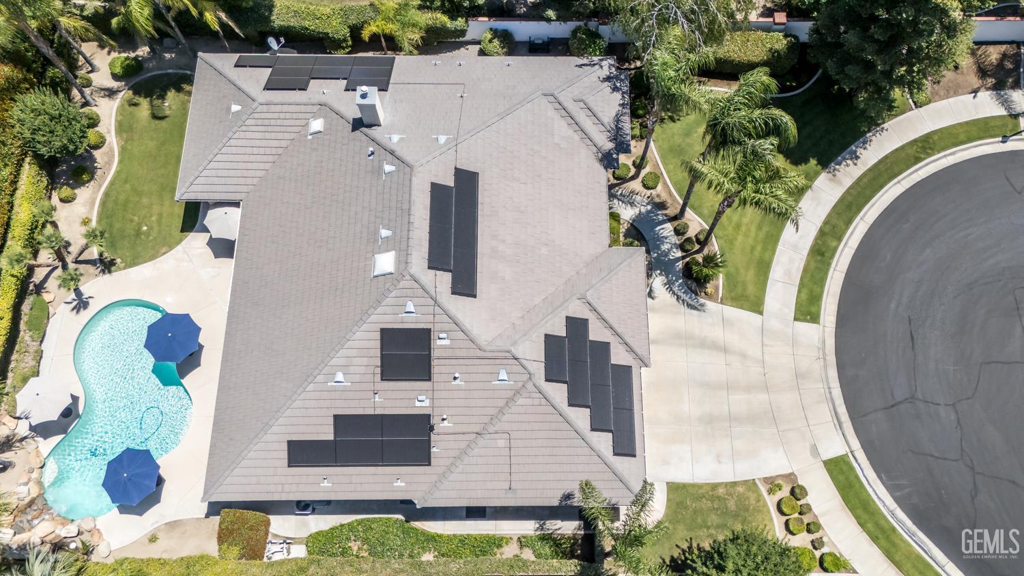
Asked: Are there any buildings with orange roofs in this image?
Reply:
No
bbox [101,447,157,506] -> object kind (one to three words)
umbrella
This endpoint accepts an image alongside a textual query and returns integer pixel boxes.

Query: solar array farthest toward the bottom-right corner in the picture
[544,316,636,457]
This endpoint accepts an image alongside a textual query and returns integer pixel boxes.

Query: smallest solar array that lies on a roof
[380,328,431,381]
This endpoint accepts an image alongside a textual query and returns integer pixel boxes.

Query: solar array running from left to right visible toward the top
[234,55,395,92]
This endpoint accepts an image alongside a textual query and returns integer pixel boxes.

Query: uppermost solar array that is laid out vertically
[428,168,479,297]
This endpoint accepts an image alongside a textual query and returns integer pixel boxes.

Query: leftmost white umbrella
[13,369,71,424]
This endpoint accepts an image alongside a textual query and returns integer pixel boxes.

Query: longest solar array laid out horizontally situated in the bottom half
[287,414,431,467]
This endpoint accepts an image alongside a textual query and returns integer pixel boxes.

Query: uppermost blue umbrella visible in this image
[145,312,201,363]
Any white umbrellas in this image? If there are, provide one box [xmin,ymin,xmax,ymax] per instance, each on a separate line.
[13,369,71,424]
[204,202,238,239]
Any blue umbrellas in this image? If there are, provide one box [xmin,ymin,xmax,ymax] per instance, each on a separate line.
[101,447,157,506]
[145,312,201,363]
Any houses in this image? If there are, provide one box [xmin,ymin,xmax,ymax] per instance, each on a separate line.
[173,54,652,508]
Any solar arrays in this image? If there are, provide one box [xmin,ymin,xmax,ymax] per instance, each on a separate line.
[428,168,479,297]
[234,55,395,92]
[287,414,431,467]
[380,328,431,381]
[544,316,636,457]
